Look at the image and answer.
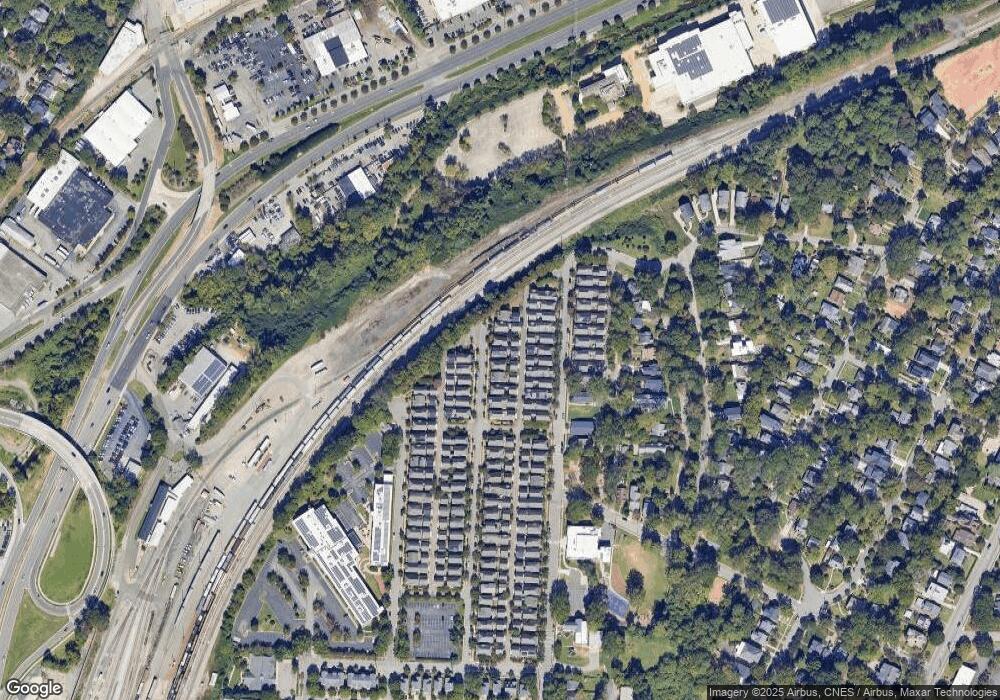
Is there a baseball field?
Yes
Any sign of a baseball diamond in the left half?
No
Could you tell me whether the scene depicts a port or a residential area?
residential area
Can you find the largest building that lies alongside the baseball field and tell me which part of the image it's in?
bottom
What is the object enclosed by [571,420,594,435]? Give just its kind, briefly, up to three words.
house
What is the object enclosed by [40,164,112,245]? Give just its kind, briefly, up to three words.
building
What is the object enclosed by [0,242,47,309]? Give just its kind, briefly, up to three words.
building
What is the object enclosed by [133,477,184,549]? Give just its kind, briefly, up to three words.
shed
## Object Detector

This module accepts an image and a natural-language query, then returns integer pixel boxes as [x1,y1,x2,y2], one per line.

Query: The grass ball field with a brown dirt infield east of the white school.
[612,528,667,610]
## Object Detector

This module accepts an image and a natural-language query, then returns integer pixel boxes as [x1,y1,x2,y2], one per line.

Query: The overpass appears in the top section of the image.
[183,149,218,243]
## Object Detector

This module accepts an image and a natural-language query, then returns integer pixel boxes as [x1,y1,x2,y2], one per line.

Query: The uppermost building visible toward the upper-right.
[764,0,815,57]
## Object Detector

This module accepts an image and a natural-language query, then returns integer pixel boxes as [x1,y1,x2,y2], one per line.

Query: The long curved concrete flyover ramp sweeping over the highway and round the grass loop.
[0,406,112,613]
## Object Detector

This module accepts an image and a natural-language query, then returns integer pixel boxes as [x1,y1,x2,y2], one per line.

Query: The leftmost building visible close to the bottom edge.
[237,656,277,690]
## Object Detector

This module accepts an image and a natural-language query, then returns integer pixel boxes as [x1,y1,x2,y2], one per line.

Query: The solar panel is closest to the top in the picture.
[764,0,801,23]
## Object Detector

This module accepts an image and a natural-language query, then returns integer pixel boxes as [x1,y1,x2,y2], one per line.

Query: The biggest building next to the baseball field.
[567,526,602,559]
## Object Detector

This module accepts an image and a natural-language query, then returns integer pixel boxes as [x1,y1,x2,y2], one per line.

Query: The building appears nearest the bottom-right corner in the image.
[942,668,976,700]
